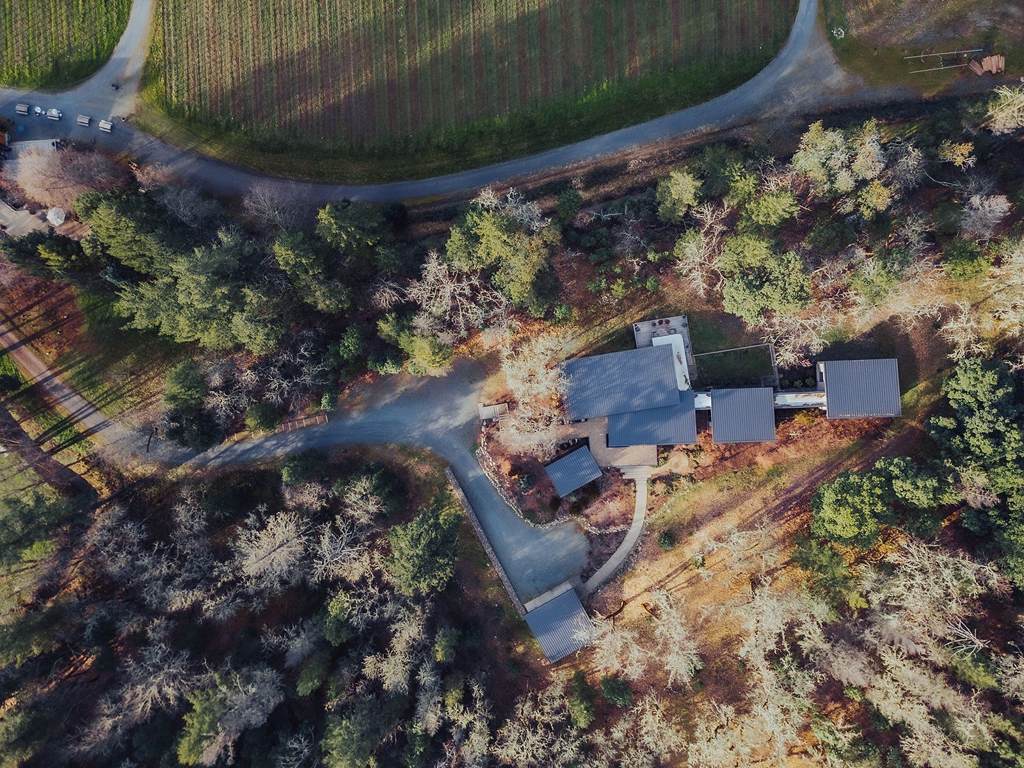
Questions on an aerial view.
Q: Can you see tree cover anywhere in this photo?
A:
Yes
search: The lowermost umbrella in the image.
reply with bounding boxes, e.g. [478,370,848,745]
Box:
[47,206,68,225]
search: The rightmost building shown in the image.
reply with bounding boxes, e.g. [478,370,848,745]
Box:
[818,358,900,420]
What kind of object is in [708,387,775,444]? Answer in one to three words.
house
